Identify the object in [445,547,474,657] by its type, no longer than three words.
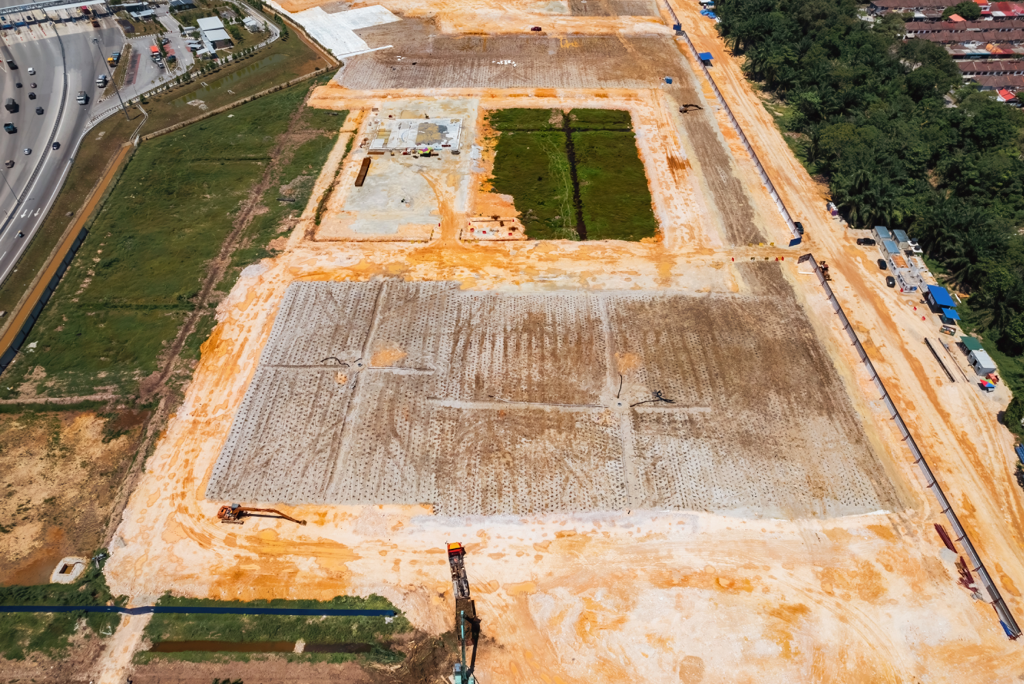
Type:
truck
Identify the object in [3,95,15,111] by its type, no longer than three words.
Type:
vehicle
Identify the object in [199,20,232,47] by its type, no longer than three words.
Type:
building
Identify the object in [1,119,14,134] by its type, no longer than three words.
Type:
vehicle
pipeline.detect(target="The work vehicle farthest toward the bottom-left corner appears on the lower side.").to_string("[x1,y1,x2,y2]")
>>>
[209,501,301,526]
